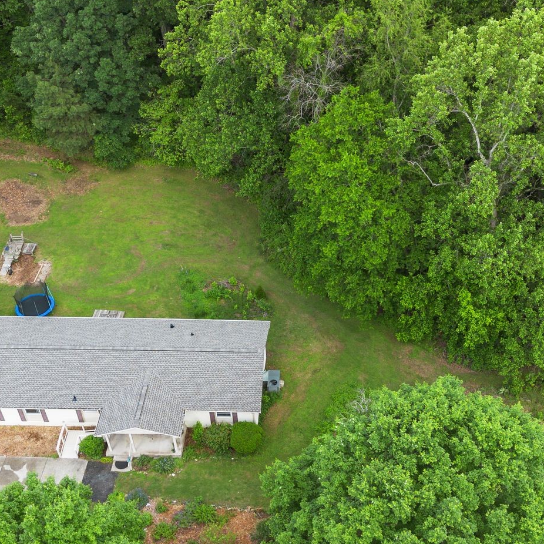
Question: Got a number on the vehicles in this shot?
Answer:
0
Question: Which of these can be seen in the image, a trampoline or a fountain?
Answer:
trampoline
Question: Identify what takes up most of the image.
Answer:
trees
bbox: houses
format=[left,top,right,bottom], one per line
[0,314,270,474]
